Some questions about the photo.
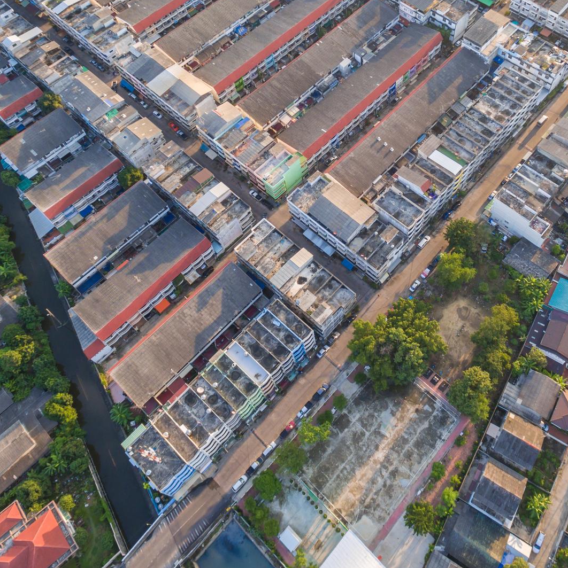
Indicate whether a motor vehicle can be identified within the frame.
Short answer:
Yes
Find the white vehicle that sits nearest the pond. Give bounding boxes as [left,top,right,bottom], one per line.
[230,475,247,494]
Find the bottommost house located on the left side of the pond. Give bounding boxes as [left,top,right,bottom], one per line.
[0,500,91,568]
